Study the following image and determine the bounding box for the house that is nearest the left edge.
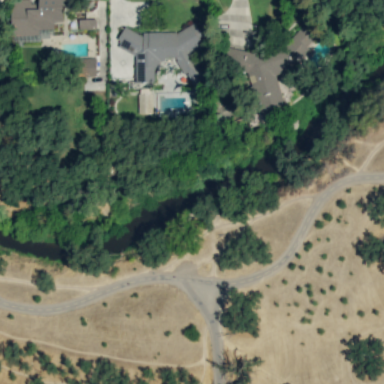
[10,0,72,36]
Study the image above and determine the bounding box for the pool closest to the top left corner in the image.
[61,42,89,57]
